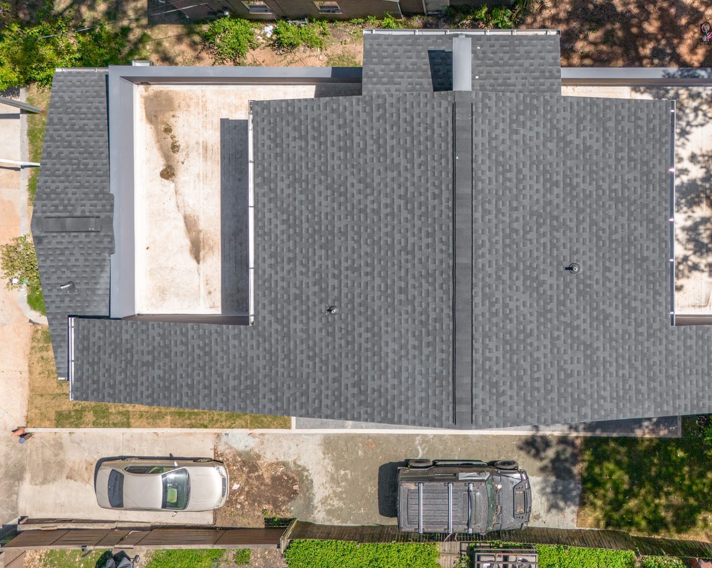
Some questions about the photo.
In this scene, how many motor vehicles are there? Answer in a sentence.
The number of motor vehicles here is 2.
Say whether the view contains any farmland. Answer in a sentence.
No, farmland can't be seen anywhere here.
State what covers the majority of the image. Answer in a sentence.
The bulk of the photo consists of buildings.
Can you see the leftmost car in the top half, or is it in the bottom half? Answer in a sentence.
Seen from above, the leftmost car lies in the bottom half of the view.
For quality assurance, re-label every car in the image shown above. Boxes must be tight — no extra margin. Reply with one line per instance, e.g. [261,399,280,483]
[94,456,233,520]
[396,456,533,535]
